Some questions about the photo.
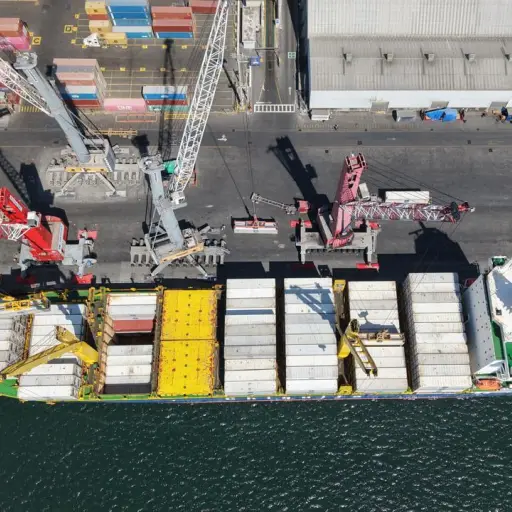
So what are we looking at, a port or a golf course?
port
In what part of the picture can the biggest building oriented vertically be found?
top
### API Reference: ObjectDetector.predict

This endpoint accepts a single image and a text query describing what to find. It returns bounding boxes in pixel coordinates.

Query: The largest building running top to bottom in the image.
[240,0,262,54]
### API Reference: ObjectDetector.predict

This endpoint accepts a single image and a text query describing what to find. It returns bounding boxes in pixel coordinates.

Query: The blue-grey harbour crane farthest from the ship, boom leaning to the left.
[0,40,128,196]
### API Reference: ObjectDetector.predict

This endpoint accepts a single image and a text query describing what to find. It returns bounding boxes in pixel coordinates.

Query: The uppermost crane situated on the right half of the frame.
[296,151,476,336]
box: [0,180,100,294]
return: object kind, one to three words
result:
crane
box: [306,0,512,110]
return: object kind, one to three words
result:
building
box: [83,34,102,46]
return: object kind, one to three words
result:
vehicle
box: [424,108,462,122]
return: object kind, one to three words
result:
vehicle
